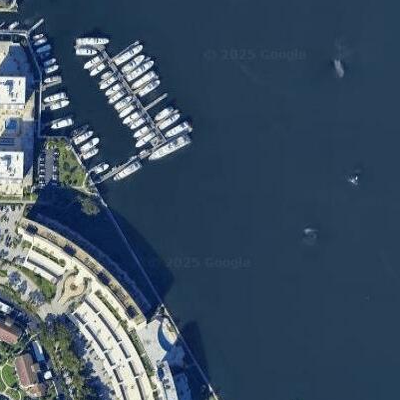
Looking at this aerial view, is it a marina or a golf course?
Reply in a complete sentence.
The picture captures a marina.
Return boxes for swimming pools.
[4,120,17,130]
[162,318,177,343]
